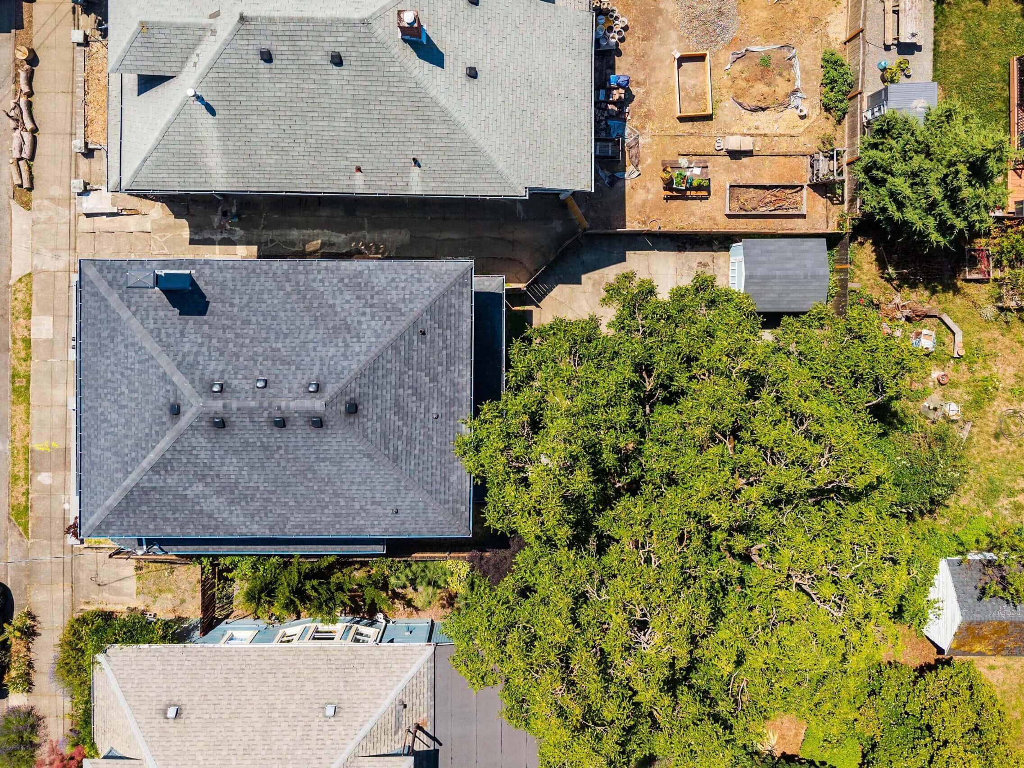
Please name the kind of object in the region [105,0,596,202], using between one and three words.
house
